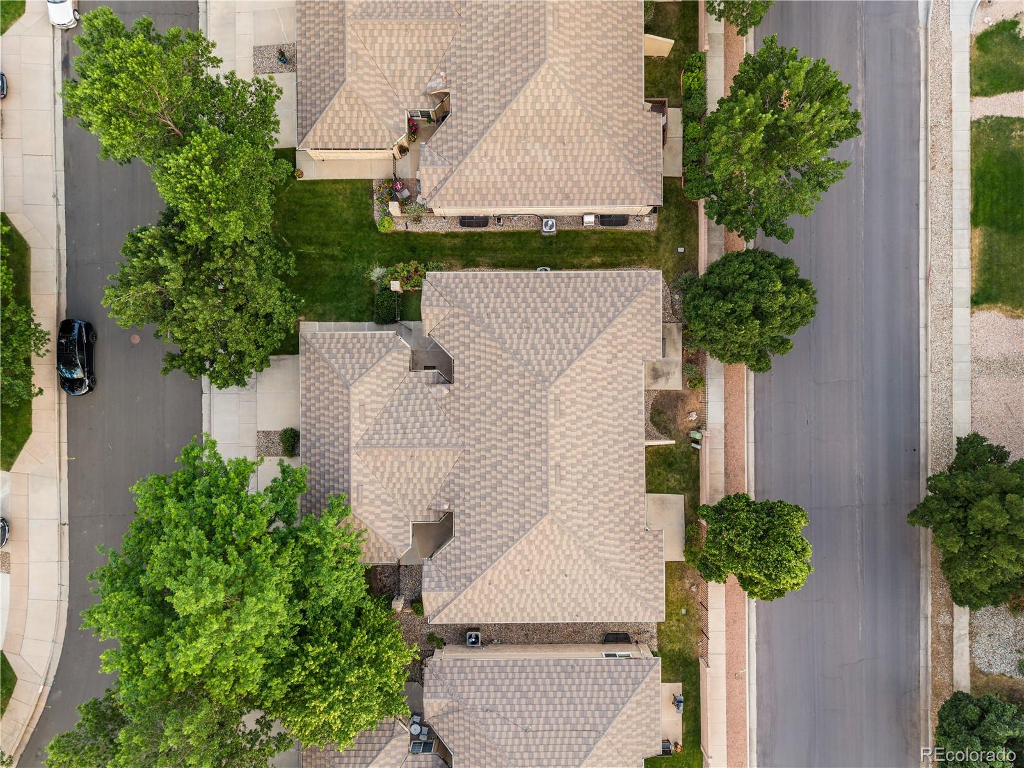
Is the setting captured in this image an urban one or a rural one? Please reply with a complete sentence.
The land in this view is best described as urban.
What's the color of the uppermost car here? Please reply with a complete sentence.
In this view, the uppermost car is white.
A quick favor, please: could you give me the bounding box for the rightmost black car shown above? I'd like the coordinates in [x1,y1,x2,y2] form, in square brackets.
[53,320,98,396]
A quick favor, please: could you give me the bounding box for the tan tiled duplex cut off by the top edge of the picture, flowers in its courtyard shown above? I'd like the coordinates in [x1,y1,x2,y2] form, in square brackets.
[300,0,666,216]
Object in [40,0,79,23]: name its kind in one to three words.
car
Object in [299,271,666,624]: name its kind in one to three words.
house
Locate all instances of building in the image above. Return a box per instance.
[299,271,666,624]
[300,0,666,216]
[299,643,663,768]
